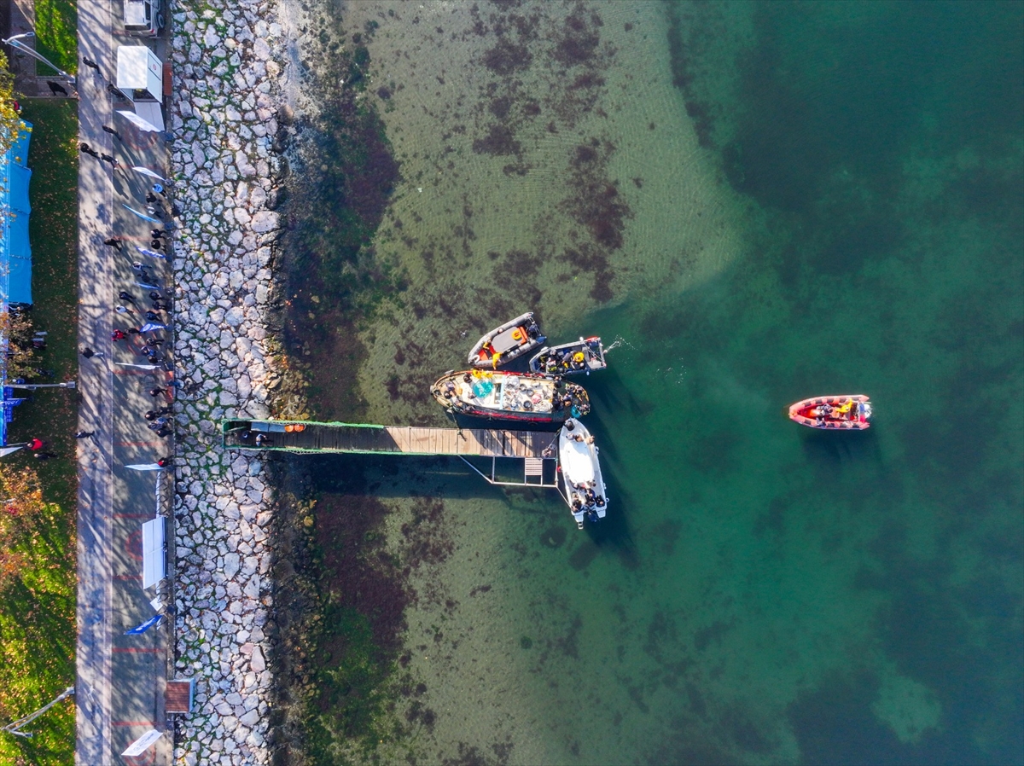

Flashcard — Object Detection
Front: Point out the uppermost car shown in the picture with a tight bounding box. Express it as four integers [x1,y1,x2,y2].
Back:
[127,0,164,39]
